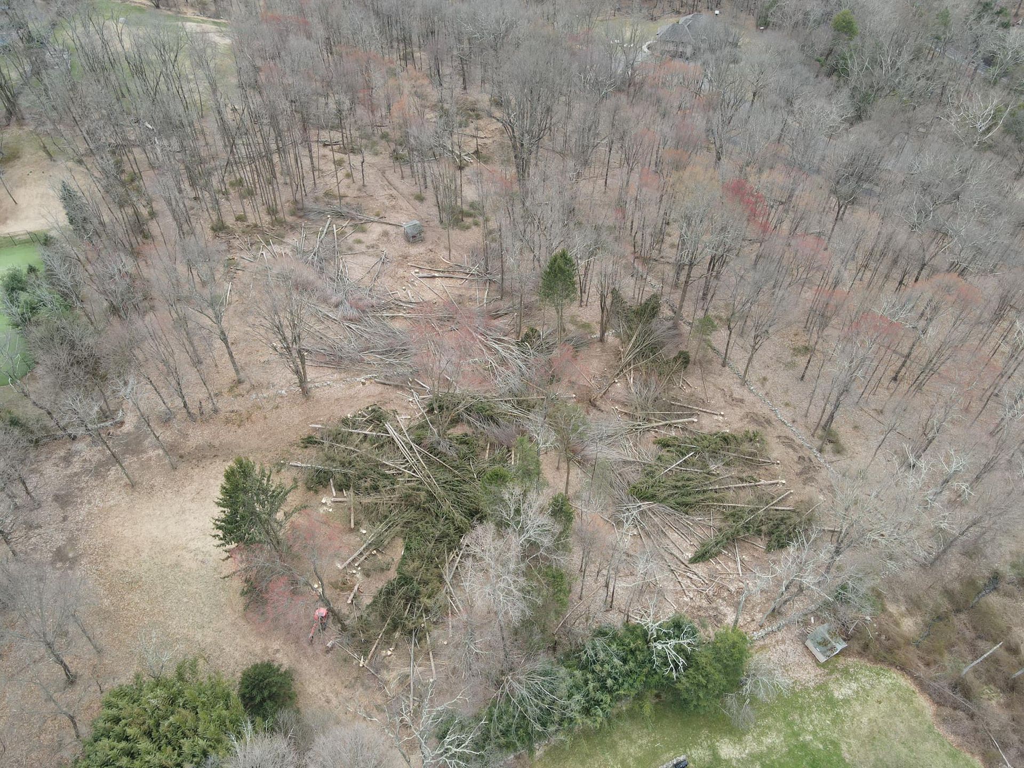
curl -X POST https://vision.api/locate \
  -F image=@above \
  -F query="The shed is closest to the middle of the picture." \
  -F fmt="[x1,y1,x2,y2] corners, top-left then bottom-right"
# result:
[404,223,425,245]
